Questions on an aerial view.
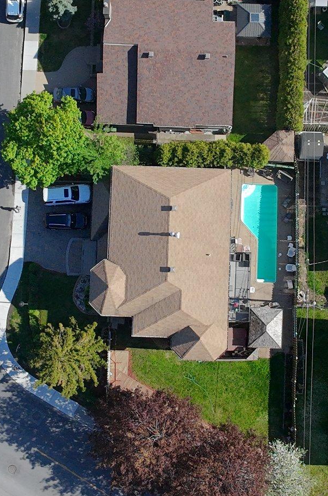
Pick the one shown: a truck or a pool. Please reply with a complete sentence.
Of the two, only a pool appears.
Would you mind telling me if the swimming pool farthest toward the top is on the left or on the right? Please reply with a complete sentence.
The swimming pool farthest toward the top is on the right side of the image.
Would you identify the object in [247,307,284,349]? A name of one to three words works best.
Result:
gazebo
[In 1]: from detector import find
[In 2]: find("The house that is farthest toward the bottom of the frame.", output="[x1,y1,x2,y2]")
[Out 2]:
[89,166,231,362]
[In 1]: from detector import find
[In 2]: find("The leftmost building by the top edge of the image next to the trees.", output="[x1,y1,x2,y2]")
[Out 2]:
[96,0,236,139]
